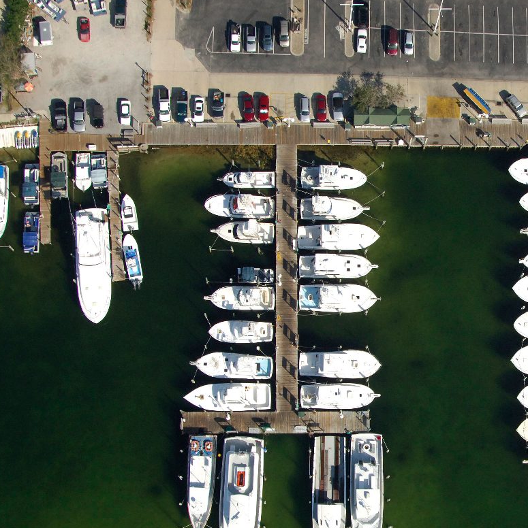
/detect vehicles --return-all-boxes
[332,94,344,121]
[357,30,367,53]
[278,19,290,47]
[463,83,492,116]
[244,95,253,120]
[194,98,204,122]
[52,101,66,132]
[175,90,187,122]
[211,92,224,118]
[387,29,399,56]
[403,32,414,55]
[316,96,327,122]
[246,26,257,52]
[299,97,310,122]
[258,96,269,121]
[71,101,85,132]
[262,24,273,51]
[93,102,103,128]
[113,0,126,28]
[504,90,528,119]
[79,18,89,42]
[119,100,131,125]
[356,1,367,30]
[229,24,241,52]
[156,88,170,122]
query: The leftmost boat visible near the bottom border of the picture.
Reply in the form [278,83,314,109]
[186,436,215,528]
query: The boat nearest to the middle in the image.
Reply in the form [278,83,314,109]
[238,267,275,284]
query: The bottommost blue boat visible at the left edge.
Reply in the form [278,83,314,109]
[22,213,39,261]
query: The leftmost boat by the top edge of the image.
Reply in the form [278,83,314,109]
[27,0,67,22]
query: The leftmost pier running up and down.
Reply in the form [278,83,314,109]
[38,125,52,245]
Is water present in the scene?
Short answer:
Yes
